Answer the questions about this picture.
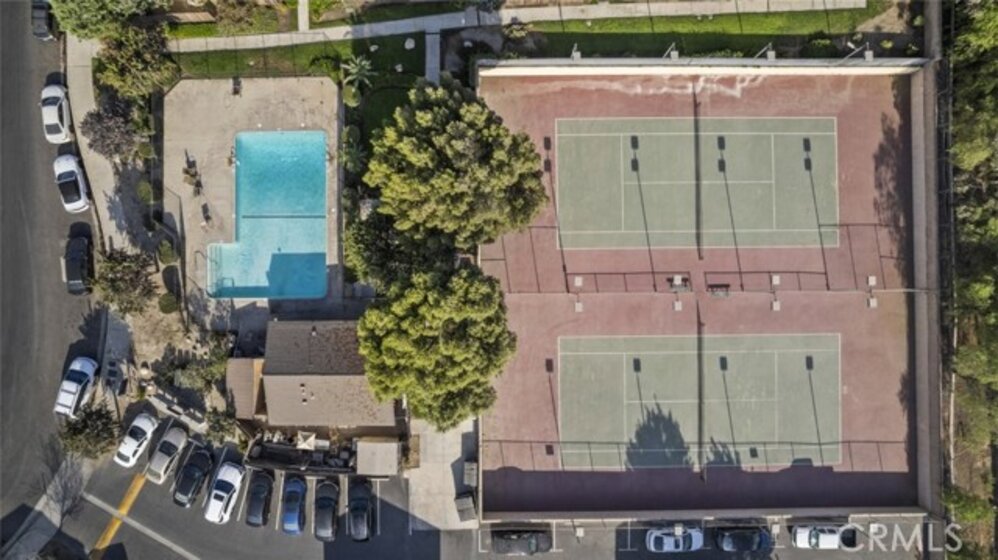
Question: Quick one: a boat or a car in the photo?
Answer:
car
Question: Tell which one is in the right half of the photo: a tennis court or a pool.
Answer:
tennis court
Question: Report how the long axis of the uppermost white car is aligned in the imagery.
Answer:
vertically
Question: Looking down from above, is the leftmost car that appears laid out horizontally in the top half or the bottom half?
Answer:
bottom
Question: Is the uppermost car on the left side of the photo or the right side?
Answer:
left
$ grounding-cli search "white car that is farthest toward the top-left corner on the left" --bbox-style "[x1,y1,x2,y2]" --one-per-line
[41,86,73,143]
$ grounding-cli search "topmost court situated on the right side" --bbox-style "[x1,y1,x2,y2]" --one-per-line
[482,75,914,292]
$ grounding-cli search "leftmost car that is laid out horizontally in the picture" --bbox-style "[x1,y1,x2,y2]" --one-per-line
[489,527,553,557]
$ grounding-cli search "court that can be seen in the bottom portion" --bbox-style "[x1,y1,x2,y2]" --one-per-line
[482,292,917,511]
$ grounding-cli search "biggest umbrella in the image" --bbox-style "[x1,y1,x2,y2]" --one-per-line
[298,429,318,449]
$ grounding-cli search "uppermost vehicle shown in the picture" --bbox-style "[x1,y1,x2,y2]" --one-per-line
[27,0,58,42]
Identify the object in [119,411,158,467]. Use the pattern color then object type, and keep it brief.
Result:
white car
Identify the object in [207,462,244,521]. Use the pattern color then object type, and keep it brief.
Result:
white car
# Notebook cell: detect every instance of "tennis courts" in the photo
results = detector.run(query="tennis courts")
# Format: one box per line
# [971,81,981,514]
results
[482,292,917,511]
[482,75,914,292]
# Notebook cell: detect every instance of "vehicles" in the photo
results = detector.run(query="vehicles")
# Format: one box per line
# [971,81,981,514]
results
[248,469,275,525]
[55,155,91,213]
[62,233,95,291]
[644,526,704,554]
[281,473,307,531]
[175,445,212,504]
[788,523,859,553]
[207,462,244,521]
[57,358,97,414]
[346,478,372,538]
[119,411,158,467]
[148,426,187,482]
[489,527,553,557]
[27,0,58,42]
[41,86,73,143]
[714,526,771,554]
[313,479,340,539]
